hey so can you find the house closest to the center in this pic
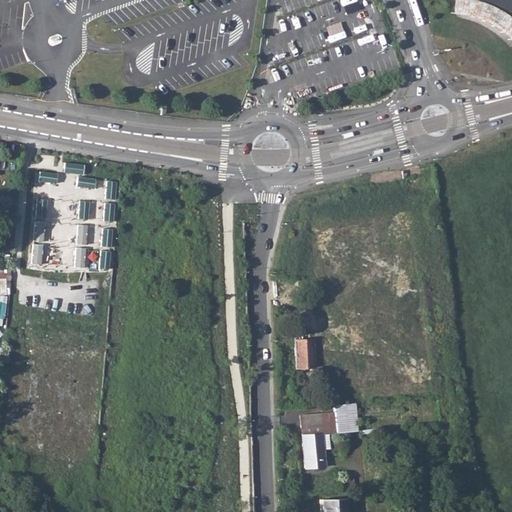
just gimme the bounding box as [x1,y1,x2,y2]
[296,339,317,370]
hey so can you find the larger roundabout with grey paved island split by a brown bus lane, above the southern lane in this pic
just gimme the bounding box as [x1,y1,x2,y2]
[236,117,306,188]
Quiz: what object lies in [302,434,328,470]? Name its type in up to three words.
house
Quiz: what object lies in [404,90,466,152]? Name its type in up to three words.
roundabout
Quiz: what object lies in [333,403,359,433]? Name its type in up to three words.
shed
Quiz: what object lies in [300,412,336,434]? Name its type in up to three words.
barn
